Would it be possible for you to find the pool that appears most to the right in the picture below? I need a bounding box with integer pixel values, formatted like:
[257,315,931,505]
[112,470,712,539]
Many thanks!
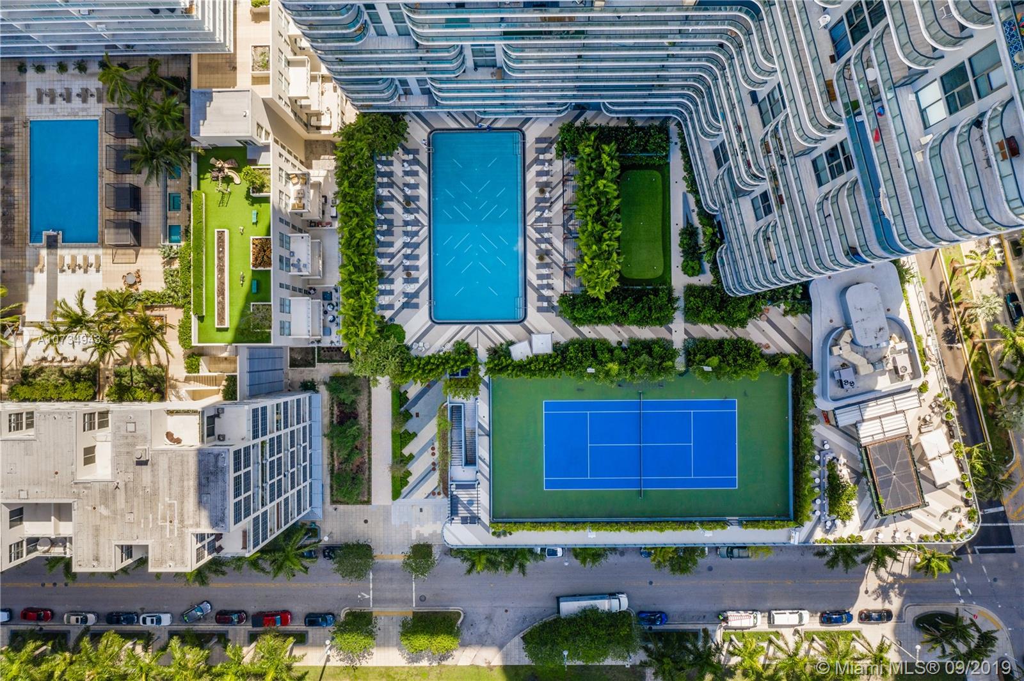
[429,128,529,324]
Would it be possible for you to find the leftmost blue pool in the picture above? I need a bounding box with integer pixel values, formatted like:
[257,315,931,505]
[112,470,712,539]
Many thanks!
[27,117,101,246]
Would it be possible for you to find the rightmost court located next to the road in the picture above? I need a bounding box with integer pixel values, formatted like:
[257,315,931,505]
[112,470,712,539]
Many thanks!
[491,374,801,528]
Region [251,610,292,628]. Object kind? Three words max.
vehicle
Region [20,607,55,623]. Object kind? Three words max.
car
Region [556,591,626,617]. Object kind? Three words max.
truck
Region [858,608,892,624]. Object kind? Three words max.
car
